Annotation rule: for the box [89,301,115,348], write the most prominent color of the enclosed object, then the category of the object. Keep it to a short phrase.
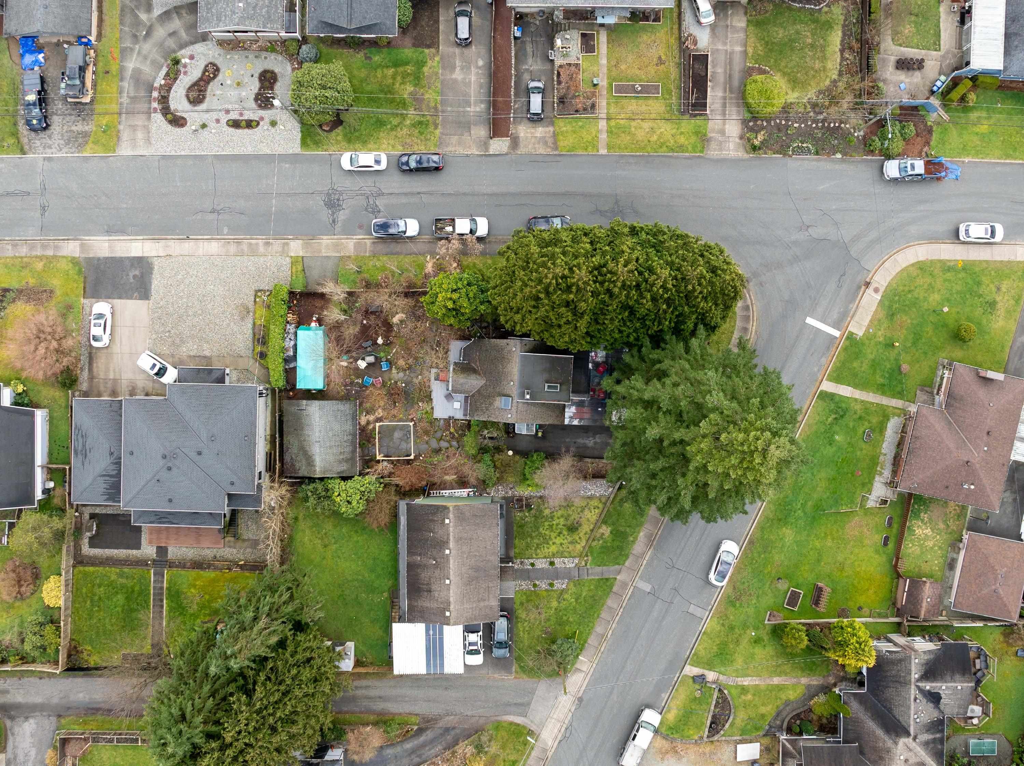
white car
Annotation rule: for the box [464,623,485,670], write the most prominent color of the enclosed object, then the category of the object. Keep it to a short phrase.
white truck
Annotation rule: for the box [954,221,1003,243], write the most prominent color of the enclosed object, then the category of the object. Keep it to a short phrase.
white car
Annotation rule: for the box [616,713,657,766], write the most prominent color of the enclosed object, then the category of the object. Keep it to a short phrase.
white truck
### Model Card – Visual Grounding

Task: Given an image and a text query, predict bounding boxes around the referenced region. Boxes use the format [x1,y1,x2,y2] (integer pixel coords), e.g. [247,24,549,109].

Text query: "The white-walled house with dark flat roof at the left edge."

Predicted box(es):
[0,382,52,510]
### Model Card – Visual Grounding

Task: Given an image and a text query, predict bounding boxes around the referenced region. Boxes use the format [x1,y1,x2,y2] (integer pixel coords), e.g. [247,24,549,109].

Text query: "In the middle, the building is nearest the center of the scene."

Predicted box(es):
[430,337,622,425]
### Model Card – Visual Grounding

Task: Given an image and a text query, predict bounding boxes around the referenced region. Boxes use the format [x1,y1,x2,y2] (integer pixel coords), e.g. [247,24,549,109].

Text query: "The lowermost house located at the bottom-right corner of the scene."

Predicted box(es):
[775,629,975,766]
